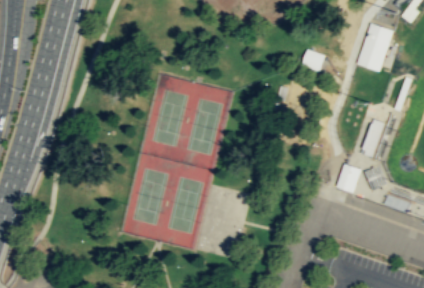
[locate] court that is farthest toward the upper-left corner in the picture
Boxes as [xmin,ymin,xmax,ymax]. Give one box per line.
[154,90,189,147]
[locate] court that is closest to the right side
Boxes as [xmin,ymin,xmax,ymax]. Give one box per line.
[188,98,224,155]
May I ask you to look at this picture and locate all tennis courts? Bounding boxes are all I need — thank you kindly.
[133,169,169,226]
[188,98,224,155]
[154,90,189,147]
[168,178,204,234]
